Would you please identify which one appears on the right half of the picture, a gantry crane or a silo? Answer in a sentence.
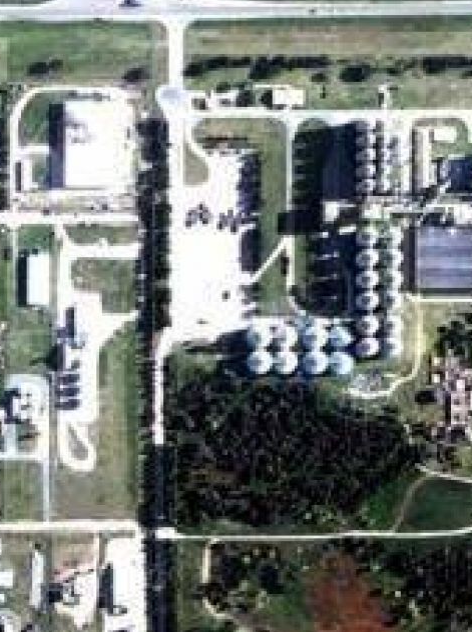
The one visible on the right half of the picture is a silo.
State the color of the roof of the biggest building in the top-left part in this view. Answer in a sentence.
The color of the roof on the biggest building in the top-left part is white.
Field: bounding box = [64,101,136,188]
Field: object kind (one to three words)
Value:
building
